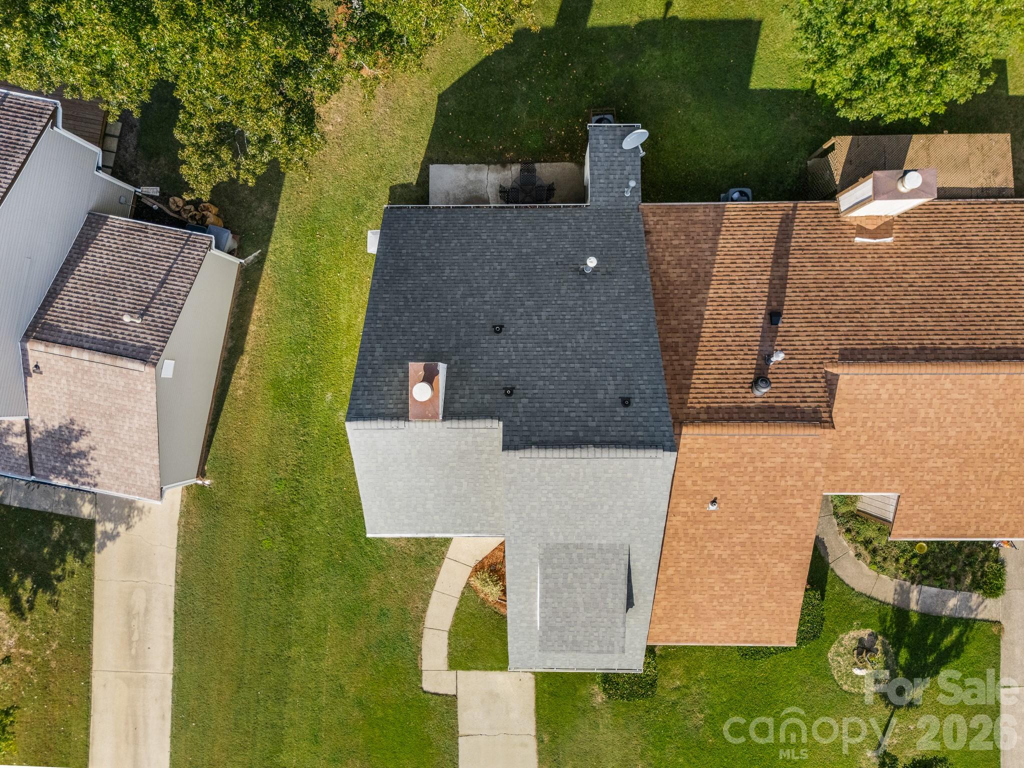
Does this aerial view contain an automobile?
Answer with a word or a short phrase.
No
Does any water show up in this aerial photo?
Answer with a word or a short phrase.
No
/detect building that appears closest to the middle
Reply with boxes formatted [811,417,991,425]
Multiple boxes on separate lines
[347,125,678,673]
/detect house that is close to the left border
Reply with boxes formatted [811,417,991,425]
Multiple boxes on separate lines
[0,93,248,505]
